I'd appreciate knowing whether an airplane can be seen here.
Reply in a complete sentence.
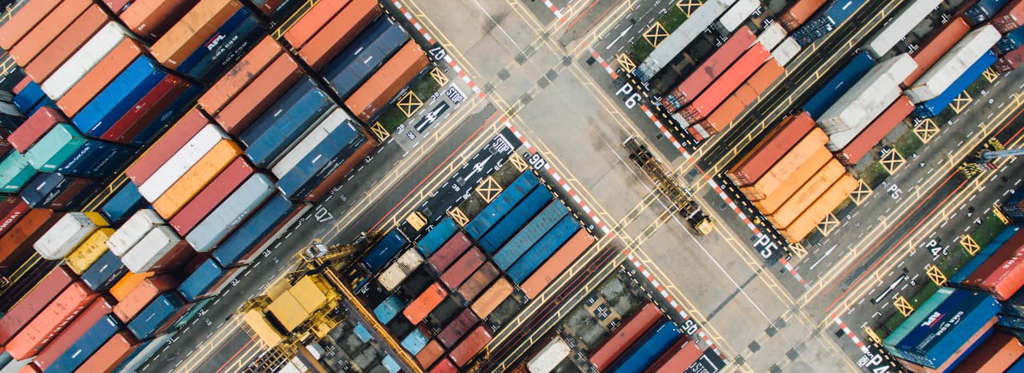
No, no airplane can be seen from above.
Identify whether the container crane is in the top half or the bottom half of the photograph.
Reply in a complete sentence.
The container crane is in the bottom half of the image.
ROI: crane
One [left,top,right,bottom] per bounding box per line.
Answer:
[237,227,484,373]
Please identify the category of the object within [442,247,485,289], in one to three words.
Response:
shipping container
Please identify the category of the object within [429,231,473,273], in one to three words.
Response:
shipping container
